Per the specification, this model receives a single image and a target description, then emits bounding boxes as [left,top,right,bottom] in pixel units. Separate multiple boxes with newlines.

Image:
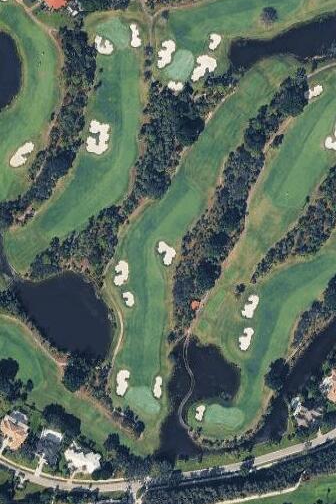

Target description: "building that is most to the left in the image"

[0,411,31,450]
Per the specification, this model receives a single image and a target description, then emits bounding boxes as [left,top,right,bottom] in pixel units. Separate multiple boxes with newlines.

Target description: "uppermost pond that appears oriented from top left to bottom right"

[0,243,115,362]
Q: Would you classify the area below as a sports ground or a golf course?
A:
golf course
